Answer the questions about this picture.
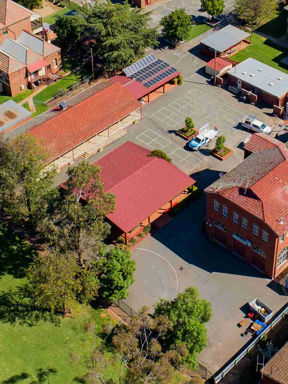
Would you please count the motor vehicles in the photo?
2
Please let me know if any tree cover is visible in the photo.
Yes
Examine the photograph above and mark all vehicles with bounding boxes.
[242,115,272,135]
[191,127,216,148]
